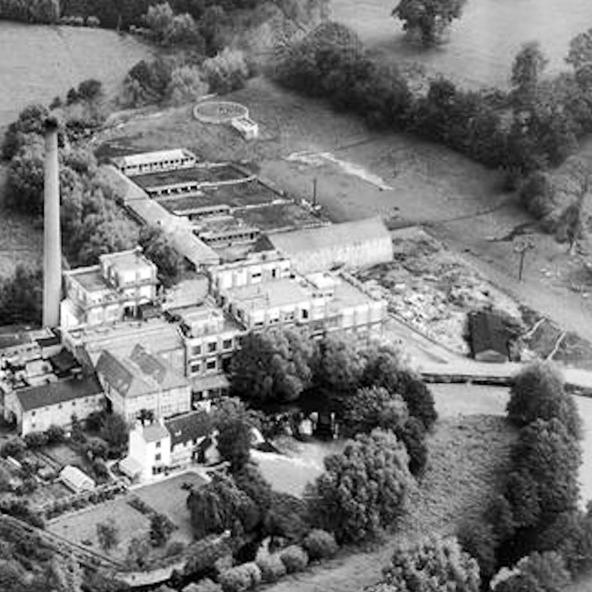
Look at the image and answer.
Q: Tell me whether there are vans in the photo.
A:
No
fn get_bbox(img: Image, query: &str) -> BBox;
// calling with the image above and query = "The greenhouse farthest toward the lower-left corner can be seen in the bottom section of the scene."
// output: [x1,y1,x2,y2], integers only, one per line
[62,464,99,496]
